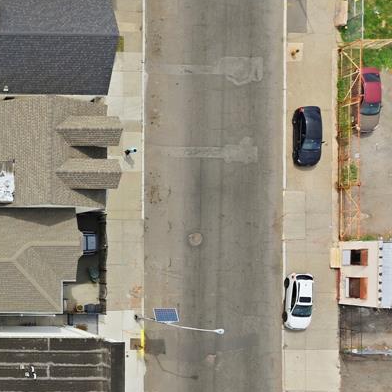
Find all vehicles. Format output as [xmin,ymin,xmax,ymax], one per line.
[291,106,324,166]
[282,274,314,330]
[352,70,386,132]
